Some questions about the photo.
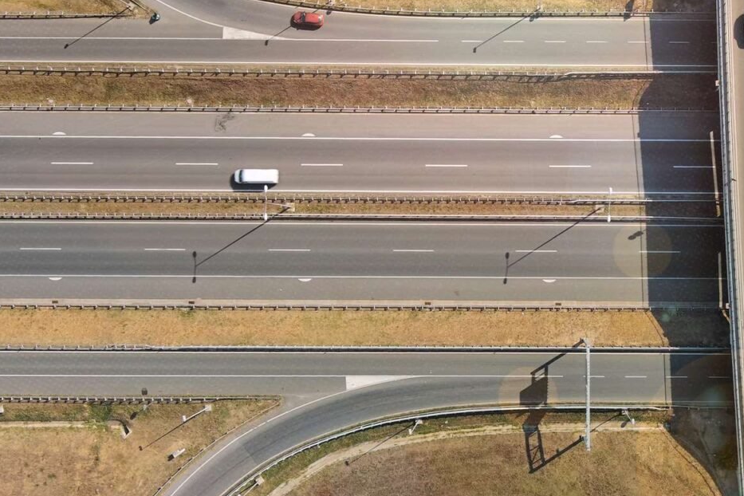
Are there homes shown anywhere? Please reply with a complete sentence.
No, there is no home in the image.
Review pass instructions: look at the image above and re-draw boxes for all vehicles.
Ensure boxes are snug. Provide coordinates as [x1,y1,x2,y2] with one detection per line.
[292,12,325,27]
[234,169,279,186]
